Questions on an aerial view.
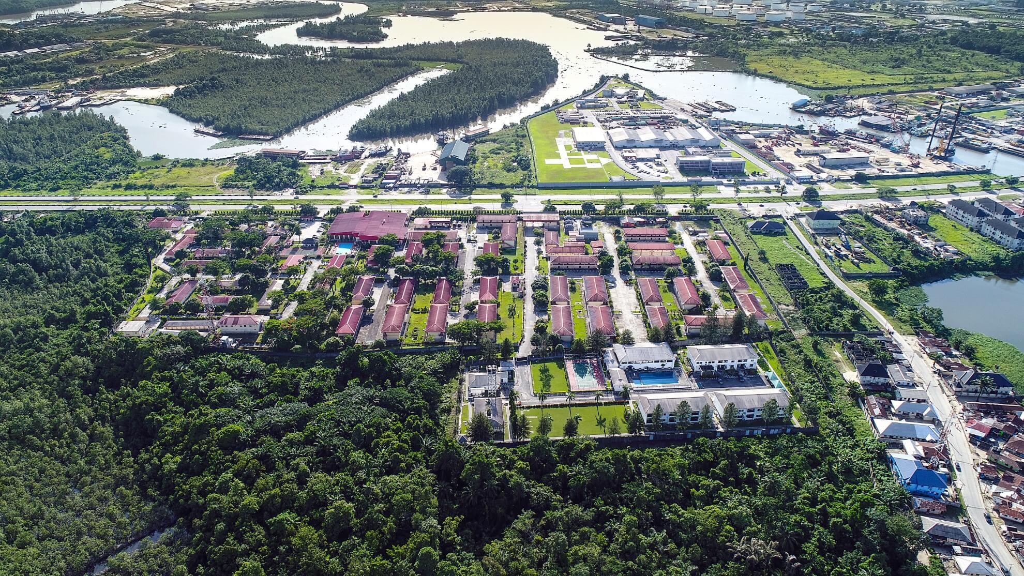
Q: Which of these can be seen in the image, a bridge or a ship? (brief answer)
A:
ship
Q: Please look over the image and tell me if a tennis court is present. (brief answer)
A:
Yes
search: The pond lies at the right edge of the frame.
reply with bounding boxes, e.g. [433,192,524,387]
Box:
[923,276,1024,351]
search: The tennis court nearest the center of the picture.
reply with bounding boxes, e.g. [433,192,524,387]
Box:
[565,351,607,390]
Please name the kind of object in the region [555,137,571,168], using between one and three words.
helipad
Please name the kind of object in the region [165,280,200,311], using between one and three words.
house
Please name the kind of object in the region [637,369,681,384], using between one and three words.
swimming pool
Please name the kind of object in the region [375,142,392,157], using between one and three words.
boat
